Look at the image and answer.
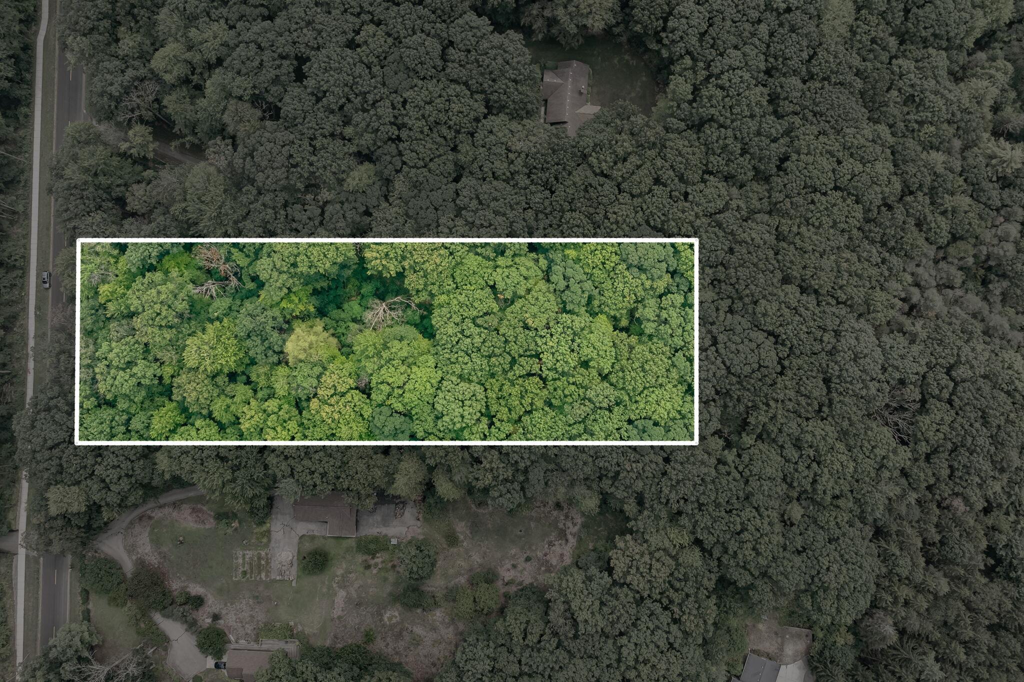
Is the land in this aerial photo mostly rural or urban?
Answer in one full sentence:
The area is rural.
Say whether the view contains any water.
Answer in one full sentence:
No, water can't be seen anywhere here.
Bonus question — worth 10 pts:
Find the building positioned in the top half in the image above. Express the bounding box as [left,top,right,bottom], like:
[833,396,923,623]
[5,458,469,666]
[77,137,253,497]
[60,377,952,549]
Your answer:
[541,60,601,145]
